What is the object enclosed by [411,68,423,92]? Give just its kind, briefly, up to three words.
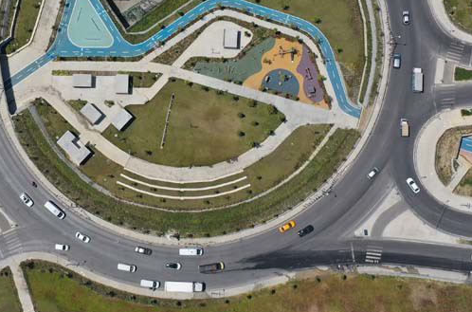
vehicle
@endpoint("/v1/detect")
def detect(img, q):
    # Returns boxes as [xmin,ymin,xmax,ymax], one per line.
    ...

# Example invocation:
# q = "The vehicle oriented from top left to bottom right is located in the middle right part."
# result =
[406,178,419,193]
